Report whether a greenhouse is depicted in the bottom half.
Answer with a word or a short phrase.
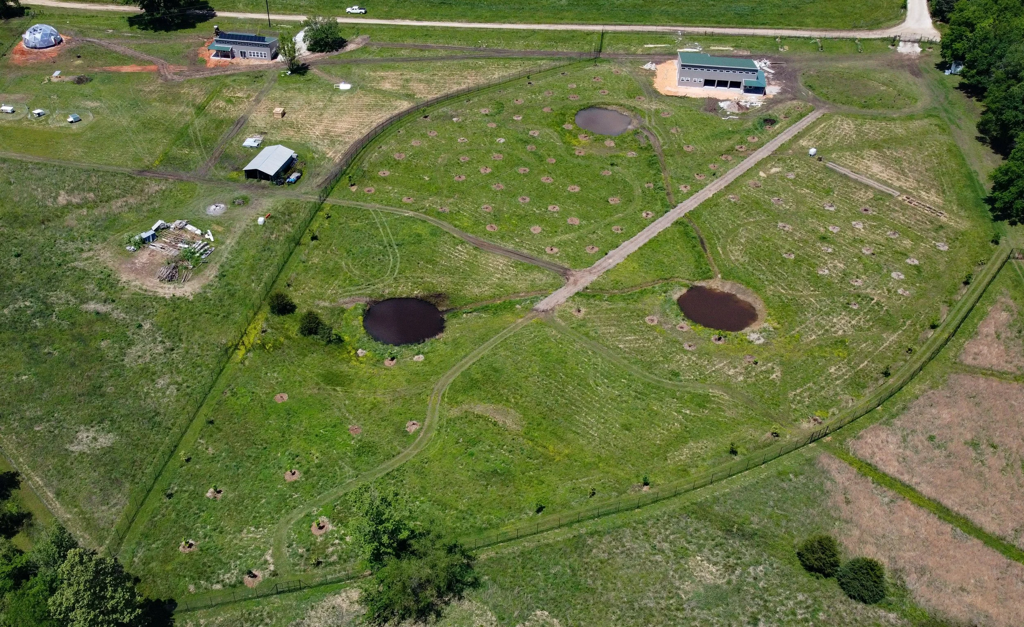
No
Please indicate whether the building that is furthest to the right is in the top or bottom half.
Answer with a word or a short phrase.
top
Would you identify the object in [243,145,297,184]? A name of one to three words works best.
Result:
barn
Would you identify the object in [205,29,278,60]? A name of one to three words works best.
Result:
house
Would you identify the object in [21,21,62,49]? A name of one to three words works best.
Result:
greenhouse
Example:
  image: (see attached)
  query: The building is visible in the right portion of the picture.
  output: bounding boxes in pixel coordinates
[677,52,769,95]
